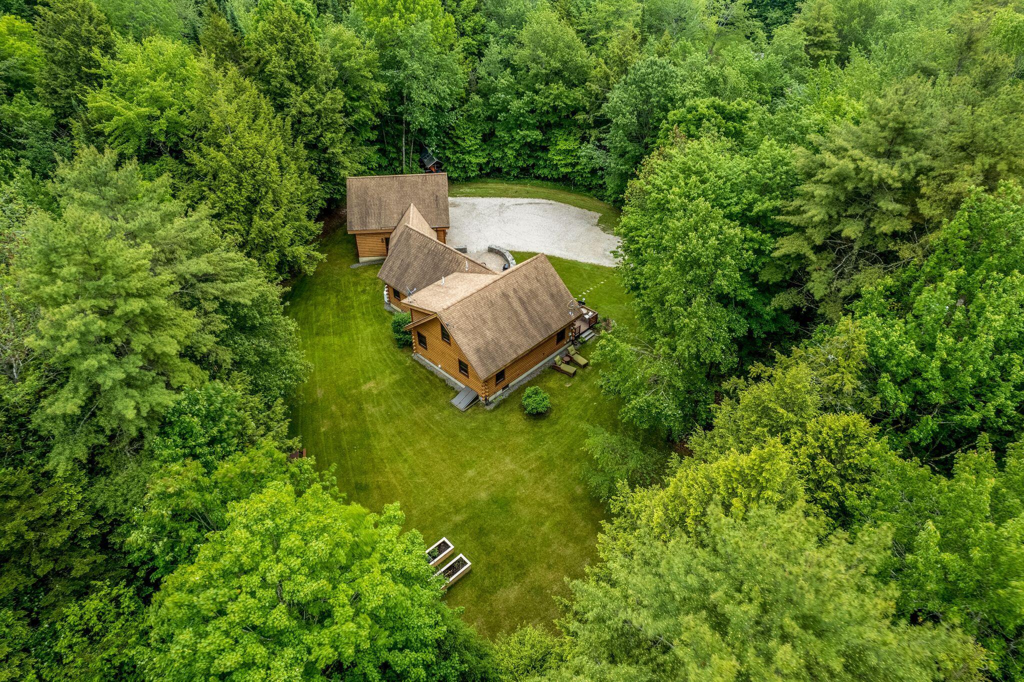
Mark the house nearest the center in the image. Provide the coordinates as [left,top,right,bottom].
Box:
[378,203,583,402]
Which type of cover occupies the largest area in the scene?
trees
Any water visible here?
No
